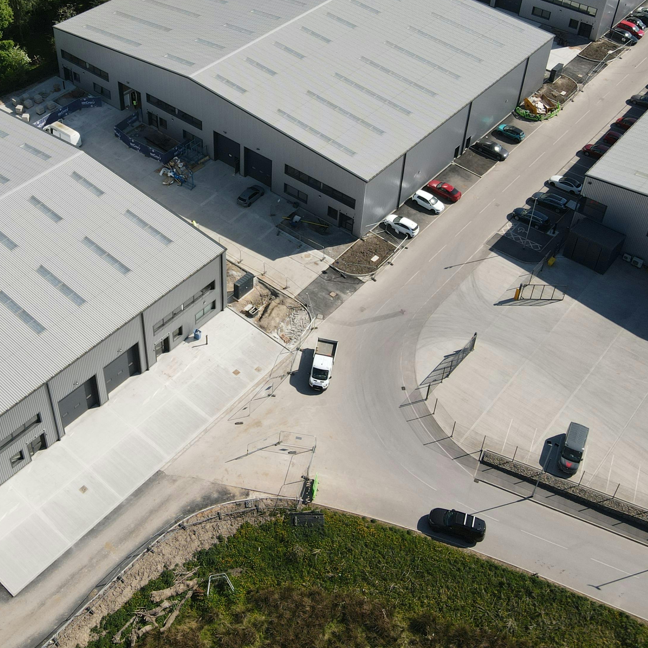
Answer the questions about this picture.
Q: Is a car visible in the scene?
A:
Yes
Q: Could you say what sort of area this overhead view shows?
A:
industrial area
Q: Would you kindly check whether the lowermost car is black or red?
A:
black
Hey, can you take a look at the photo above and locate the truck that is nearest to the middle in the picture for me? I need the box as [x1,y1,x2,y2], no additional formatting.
[307,336,338,392]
